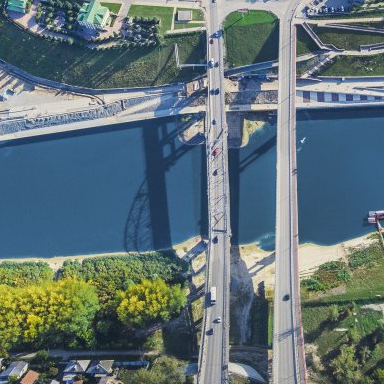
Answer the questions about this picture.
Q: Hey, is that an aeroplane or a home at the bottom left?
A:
home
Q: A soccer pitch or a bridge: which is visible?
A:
bridge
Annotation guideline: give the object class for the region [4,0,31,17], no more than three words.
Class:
building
